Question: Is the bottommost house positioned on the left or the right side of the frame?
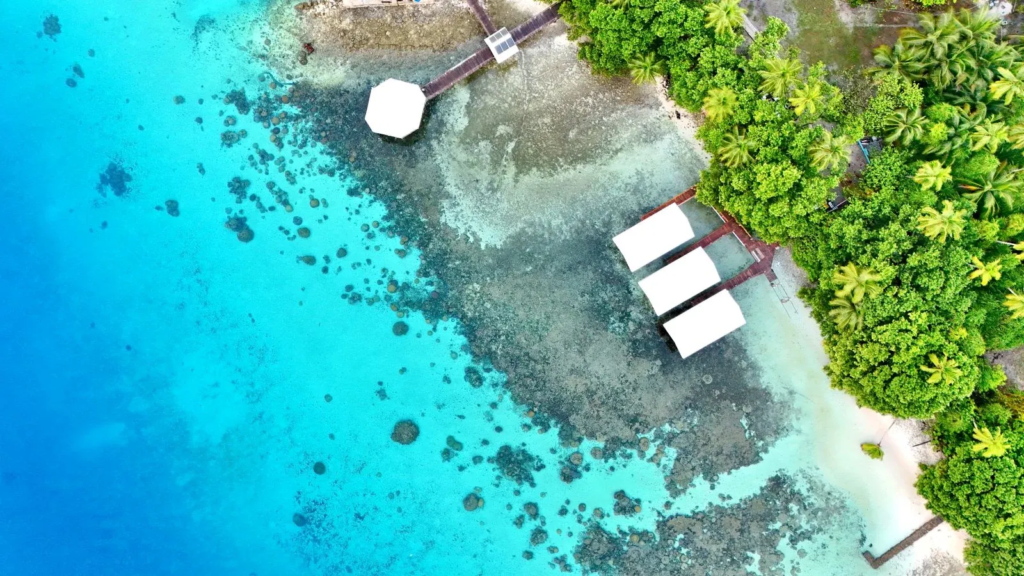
right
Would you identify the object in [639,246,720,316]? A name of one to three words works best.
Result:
house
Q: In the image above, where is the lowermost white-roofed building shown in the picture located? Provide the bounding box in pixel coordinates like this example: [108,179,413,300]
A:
[664,289,745,358]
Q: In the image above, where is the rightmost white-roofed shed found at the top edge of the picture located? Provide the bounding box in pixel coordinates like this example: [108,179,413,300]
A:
[484,27,519,71]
